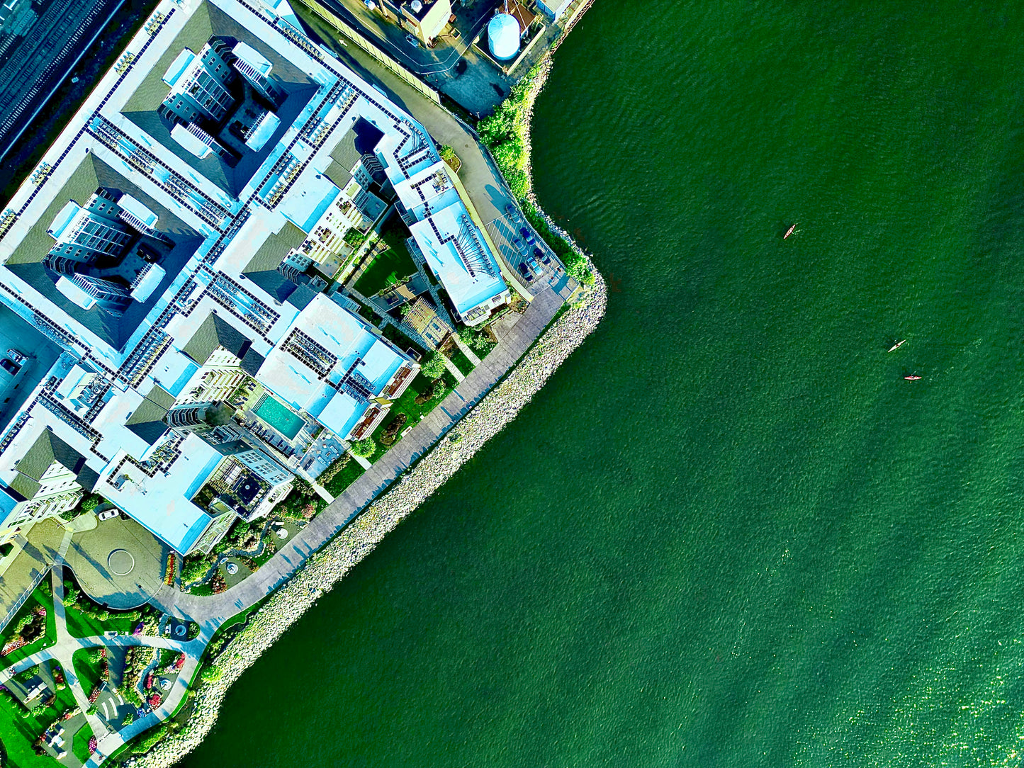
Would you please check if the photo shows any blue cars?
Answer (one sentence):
Yes, there's a blue car down there.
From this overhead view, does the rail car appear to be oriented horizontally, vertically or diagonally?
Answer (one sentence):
What the image shows is the rail car lying diagonally.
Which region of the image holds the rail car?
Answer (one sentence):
The rail car is in the top left part of the image.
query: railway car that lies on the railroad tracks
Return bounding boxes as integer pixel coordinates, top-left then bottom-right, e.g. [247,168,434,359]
[10,7,31,30]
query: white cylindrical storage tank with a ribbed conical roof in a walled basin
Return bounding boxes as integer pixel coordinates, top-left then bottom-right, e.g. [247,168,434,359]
[487,12,520,60]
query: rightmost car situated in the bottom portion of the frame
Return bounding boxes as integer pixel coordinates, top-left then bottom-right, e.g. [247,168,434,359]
[96,509,118,521]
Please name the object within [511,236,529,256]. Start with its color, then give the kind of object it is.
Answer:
blue car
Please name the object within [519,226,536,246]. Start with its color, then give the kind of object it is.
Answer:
blue car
